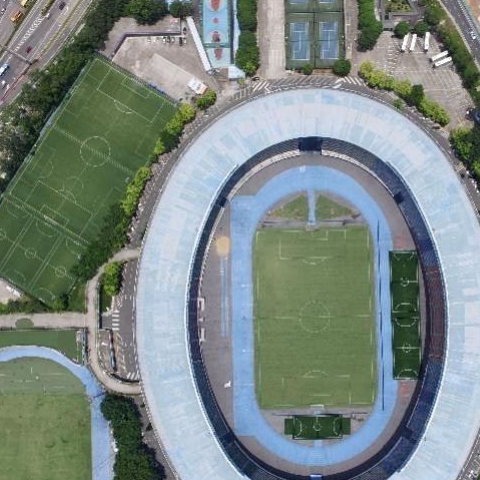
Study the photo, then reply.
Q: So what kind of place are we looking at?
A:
sports ground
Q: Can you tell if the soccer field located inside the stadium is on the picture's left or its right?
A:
right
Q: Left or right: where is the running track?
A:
right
